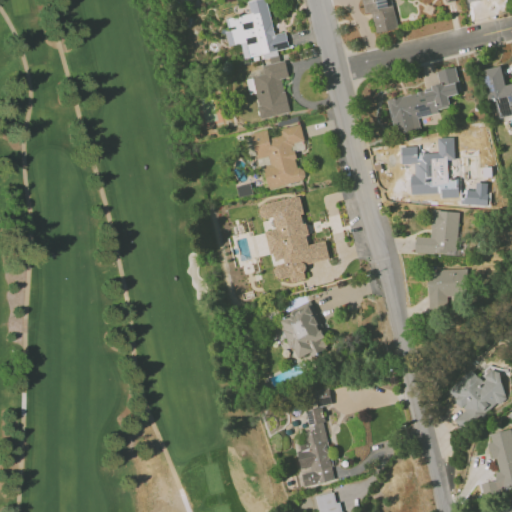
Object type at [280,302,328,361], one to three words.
house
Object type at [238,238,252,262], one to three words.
swimming pool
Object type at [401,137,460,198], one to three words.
house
